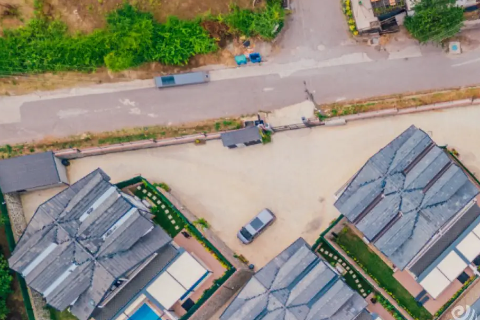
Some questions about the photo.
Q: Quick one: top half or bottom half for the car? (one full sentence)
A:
Seen from above, the car lies in the bottom half of the view.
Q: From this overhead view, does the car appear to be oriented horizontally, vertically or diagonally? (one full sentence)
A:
In this picture, the car lies diagonally.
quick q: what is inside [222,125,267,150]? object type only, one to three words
shed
